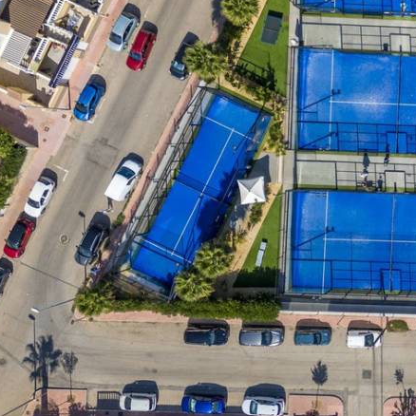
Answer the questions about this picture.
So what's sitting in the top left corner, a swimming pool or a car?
car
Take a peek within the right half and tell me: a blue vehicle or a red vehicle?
blue vehicle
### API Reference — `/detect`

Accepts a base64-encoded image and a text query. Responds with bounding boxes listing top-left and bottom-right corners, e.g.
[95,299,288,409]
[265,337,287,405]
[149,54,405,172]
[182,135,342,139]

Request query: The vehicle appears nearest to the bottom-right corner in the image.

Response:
[346,328,383,349]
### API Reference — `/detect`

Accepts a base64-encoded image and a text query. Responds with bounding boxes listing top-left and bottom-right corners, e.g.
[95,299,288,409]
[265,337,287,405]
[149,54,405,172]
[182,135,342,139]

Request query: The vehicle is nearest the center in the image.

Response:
[104,153,144,204]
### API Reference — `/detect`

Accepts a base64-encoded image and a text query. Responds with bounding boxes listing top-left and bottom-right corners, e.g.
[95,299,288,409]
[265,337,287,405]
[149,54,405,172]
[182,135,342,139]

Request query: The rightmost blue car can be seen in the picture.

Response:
[293,326,333,349]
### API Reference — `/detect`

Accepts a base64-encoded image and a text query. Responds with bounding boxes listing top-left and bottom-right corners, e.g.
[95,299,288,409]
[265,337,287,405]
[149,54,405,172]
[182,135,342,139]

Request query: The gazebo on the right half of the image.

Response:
[237,176,273,204]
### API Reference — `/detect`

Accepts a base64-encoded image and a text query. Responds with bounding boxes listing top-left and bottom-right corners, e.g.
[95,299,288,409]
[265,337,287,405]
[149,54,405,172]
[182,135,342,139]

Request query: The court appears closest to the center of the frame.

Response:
[109,84,278,302]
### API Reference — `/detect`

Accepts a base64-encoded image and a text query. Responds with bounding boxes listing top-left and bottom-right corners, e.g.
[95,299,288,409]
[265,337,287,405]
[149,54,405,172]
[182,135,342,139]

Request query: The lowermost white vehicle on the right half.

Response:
[241,395,286,416]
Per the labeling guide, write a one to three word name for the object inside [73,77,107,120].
car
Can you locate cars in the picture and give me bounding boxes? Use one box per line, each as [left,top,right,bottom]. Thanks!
[3,215,38,258]
[293,326,333,349]
[73,77,107,120]
[182,325,231,349]
[74,214,112,264]
[346,328,383,349]
[24,170,60,217]
[241,395,286,416]
[108,7,142,53]
[118,390,161,413]
[238,326,286,350]
[181,392,228,416]
[126,26,161,71]
[104,153,144,204]
[170,35,201,77]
